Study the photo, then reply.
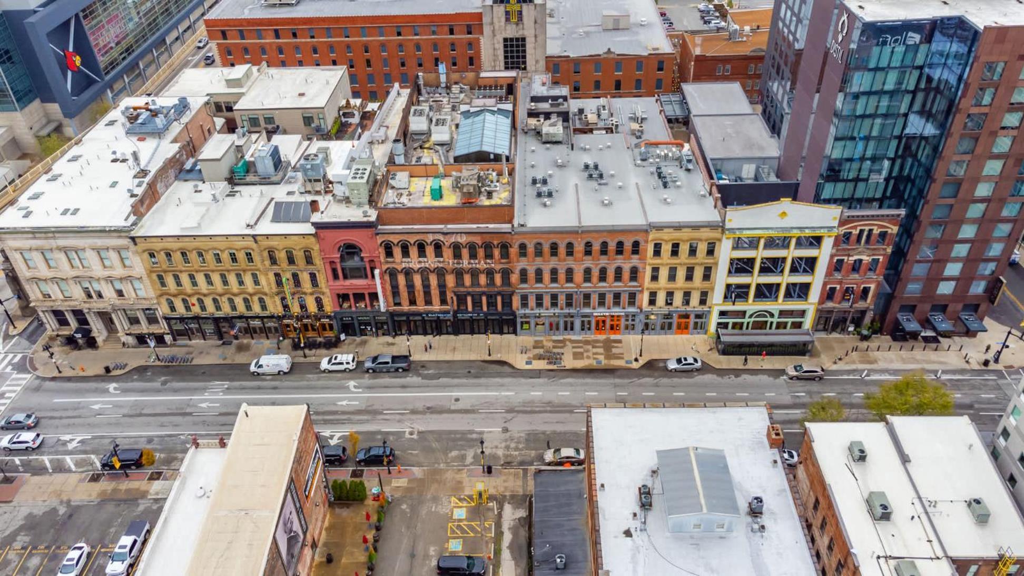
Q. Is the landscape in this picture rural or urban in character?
urban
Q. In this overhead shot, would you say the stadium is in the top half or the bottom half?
top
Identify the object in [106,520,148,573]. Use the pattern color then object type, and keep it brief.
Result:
white truck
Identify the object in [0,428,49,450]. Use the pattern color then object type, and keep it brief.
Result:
white car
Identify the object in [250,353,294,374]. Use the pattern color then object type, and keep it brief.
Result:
white vehicle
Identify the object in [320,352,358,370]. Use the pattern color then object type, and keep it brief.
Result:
white car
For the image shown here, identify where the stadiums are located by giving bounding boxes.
[0,0,213,142]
